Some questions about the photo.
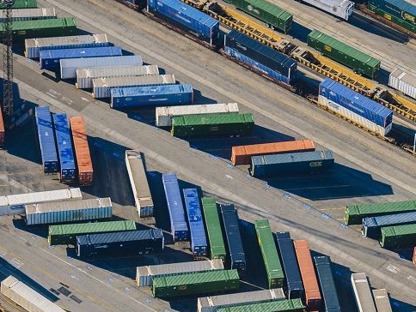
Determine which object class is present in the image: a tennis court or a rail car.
rail car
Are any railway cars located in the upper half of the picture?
Yes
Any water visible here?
No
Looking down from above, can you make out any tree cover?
No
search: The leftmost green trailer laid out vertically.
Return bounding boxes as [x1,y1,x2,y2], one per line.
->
[201,196,227,268]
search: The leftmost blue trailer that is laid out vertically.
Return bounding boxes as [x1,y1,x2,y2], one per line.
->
[35,106,58,175]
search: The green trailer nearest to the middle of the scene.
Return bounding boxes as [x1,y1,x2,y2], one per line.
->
[171,113,255,139]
